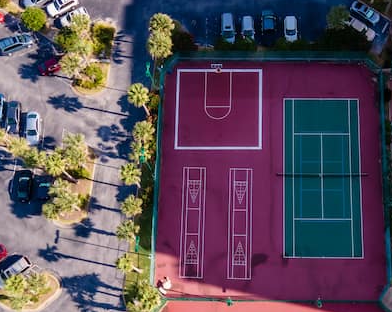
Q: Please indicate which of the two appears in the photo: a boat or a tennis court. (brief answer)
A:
tennis court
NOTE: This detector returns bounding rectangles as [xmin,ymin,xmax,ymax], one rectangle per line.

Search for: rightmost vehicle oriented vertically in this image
[283,14,299,45]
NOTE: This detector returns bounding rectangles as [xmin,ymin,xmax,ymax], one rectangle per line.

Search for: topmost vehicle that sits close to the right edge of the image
[348,0,379,25]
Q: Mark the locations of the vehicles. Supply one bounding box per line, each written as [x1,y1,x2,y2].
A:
[240,14,256,44]
[0,244,8,260]
[60,6,91,30]
[344,15,378,44]
[36,56,65,79]
[348,0,379,25]
[220,11,236,44]
[261,8,277,41]
[47,0,79,18]
[24,0,53,8]
[25,112,42,143]
[4,101,23,133]
[35,172,54,205]
[0,93,6,123]
[0,35,34,55]
[283,14,299,45]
